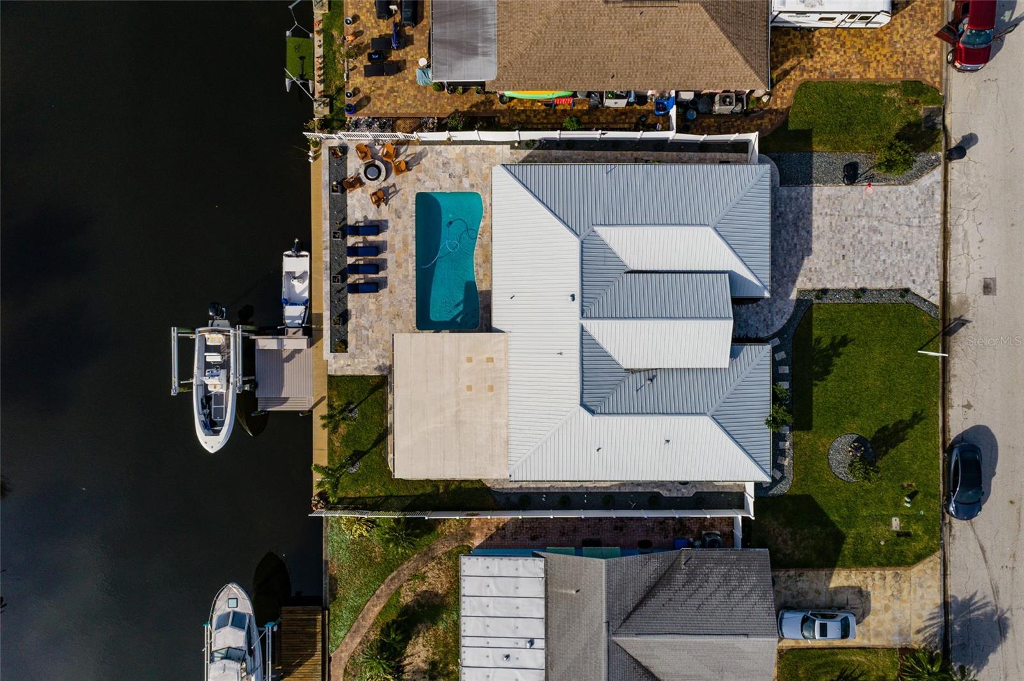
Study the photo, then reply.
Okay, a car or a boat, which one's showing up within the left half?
boat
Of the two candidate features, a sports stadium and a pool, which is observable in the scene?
pool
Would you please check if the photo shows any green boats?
Yes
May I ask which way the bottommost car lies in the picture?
from left to right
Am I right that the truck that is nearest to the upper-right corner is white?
No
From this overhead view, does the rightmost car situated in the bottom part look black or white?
black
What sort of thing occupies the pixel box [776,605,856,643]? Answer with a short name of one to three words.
car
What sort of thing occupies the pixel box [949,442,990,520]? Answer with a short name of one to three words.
car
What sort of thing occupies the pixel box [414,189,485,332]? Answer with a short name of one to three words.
swimming pool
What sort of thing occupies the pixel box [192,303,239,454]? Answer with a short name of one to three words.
boat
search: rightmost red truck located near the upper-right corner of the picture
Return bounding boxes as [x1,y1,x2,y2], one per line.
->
[936,0,1013,74]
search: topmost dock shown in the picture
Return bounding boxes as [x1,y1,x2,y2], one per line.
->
[249,327,312,417]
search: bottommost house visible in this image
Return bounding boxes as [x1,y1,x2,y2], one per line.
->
[459,543,778,681]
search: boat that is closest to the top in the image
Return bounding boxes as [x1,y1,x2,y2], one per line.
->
[285,31,314,92]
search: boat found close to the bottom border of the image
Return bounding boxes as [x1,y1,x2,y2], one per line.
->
[209,584,259,681]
